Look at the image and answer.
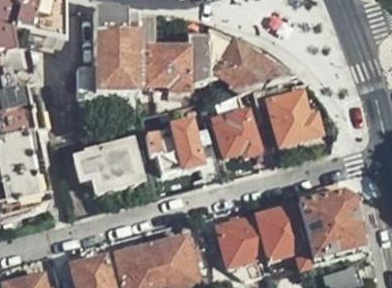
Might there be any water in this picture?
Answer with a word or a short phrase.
No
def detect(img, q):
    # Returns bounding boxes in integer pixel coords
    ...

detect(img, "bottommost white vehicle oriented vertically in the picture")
[378,225,390,249]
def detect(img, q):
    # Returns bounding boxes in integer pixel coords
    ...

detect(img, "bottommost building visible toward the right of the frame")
[324,268,362,288]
